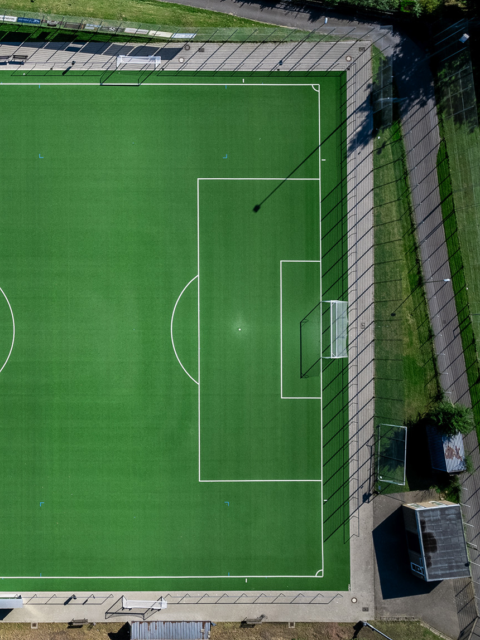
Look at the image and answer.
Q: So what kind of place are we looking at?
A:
sports ground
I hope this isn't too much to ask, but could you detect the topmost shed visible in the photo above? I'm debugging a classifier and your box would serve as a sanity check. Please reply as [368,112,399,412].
[428,430,465,473]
